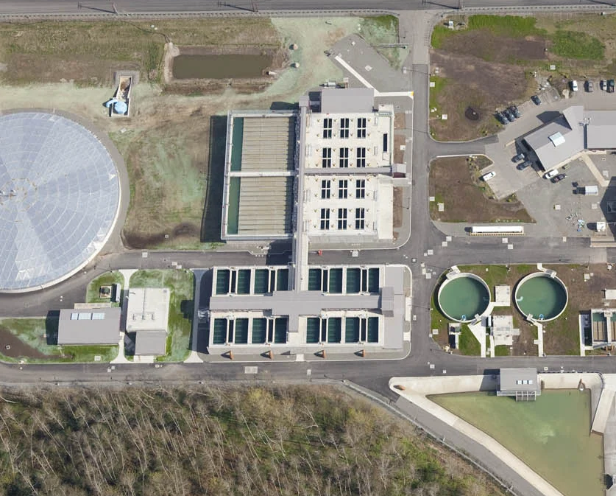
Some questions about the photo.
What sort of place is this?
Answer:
industrial area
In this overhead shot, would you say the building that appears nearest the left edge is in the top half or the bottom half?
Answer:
bottom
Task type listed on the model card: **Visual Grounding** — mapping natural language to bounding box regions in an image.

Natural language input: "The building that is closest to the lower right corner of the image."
[497,368,541,403]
